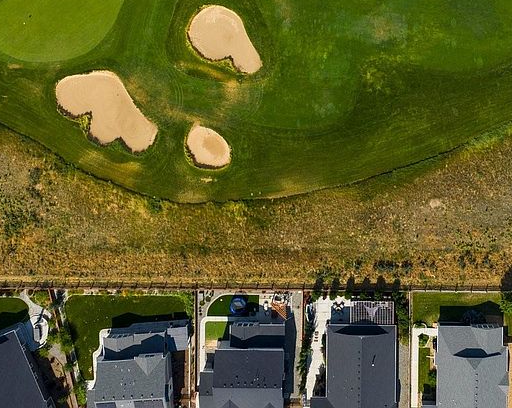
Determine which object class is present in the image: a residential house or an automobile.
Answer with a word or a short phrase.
residential house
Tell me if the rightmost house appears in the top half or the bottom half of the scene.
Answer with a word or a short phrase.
bottom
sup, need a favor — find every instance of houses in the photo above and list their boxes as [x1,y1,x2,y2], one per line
[310,319,398,408]
[198,321,286,408]
[436,321,507,408]
[86,324,189,408]
[0,325,58,408]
